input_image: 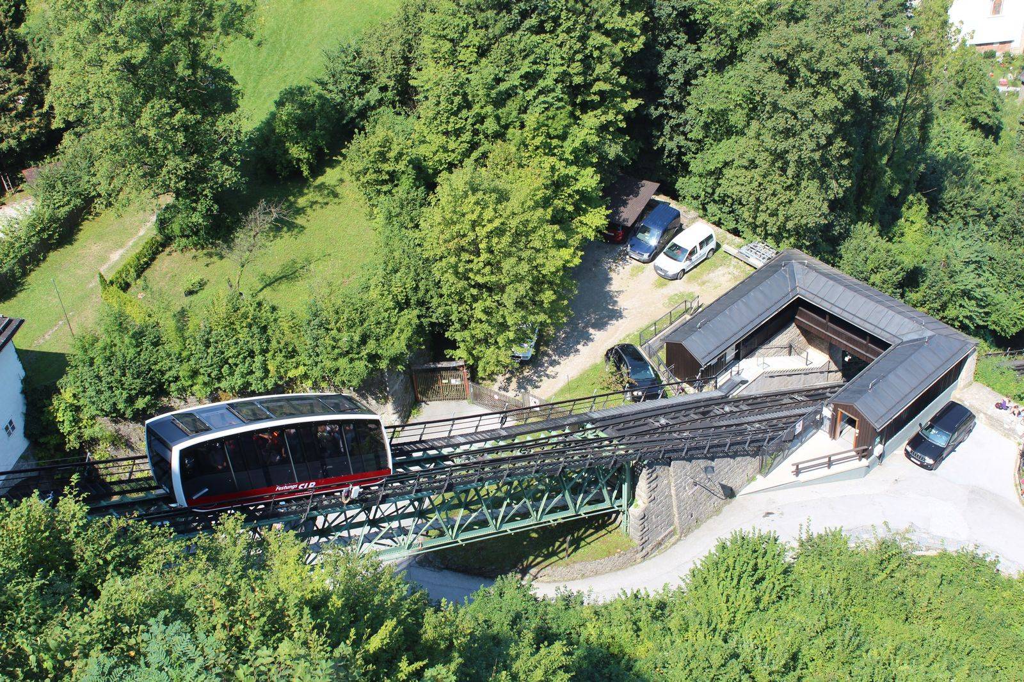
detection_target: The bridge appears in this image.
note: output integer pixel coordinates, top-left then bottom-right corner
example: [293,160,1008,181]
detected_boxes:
[0,373,850,572]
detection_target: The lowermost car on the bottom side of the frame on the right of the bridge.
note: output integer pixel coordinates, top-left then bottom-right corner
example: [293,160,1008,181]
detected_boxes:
[907,399,978,468]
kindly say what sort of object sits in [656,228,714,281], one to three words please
van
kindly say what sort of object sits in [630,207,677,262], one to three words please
van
